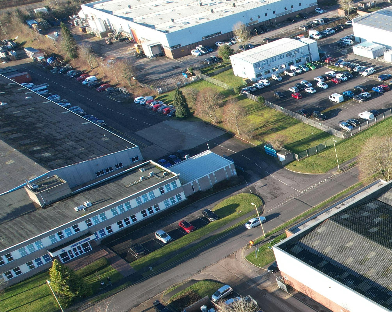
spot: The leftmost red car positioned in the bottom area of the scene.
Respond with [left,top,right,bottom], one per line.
[178,220,195,233]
